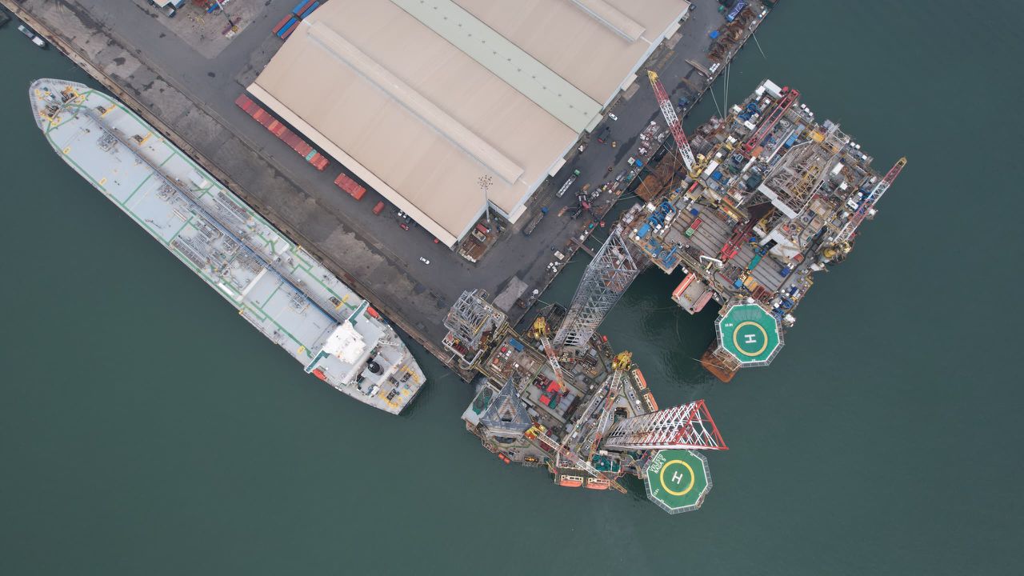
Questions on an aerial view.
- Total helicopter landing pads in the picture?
2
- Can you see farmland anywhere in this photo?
No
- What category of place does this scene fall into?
port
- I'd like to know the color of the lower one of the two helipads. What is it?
green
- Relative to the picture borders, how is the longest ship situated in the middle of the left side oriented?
diagonally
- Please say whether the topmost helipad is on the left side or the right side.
right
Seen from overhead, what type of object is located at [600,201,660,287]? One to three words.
ship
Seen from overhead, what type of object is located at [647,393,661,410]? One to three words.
boat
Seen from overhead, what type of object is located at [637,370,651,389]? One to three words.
boat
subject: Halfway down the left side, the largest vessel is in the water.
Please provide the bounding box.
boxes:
[25,76,427,415]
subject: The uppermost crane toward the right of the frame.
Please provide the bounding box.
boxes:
[649,71,714,180]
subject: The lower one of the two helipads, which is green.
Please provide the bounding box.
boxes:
[641,449,713,515]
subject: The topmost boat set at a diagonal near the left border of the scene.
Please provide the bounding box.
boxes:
[20,27,42,45]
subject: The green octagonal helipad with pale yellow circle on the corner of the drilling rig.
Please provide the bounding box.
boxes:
[714,298,785,369]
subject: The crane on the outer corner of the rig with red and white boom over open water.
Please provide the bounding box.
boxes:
[831,159,906,256]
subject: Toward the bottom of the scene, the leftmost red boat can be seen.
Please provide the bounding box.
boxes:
[310,368,330,383]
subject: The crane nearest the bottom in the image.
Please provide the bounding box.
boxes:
[525,424,629,492]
